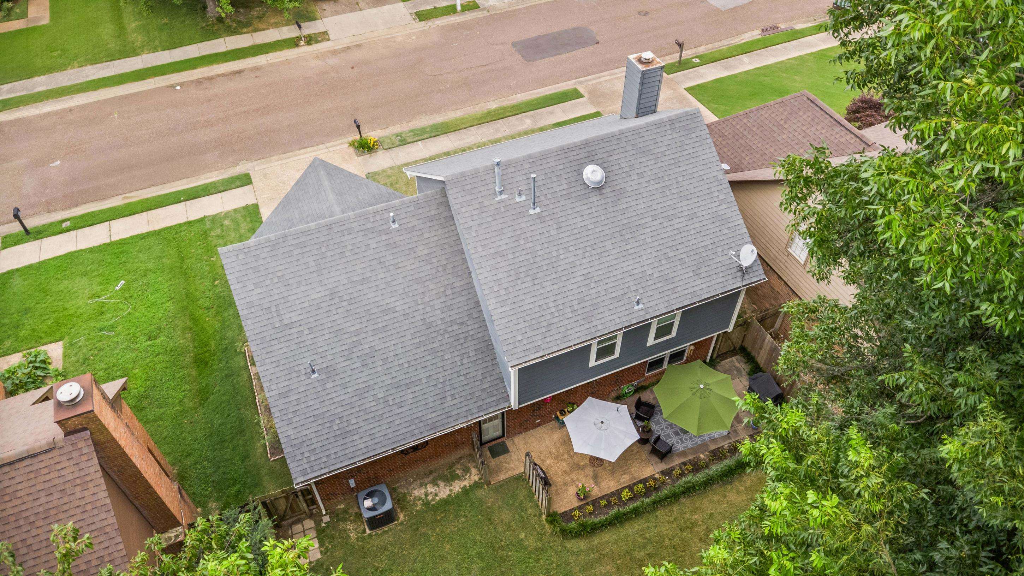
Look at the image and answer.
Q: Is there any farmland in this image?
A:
No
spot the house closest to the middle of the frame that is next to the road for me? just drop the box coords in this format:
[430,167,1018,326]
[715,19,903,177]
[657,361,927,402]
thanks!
[219,50,766,511]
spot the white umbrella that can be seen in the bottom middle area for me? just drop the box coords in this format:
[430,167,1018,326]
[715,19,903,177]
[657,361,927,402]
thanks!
[563,397,640,467]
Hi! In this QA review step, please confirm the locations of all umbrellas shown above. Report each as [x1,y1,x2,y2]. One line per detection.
[652,362,744,441]
[563,397,640,467]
